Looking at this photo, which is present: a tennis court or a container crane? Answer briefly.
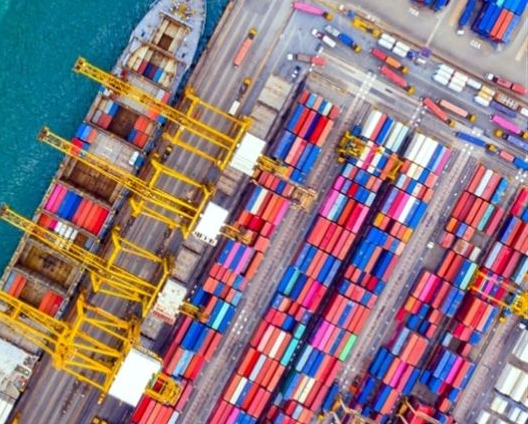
container crane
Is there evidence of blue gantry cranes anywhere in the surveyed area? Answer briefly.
No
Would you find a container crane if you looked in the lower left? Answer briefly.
Yes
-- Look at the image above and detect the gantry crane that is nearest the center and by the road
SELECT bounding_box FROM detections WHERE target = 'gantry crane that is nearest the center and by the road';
[245,161,320,213]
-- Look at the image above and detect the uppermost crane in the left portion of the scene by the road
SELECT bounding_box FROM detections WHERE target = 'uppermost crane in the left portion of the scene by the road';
[75,51,296,178]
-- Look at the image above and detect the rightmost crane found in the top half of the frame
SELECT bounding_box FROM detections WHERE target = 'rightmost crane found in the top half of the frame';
[328,125,409,178]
